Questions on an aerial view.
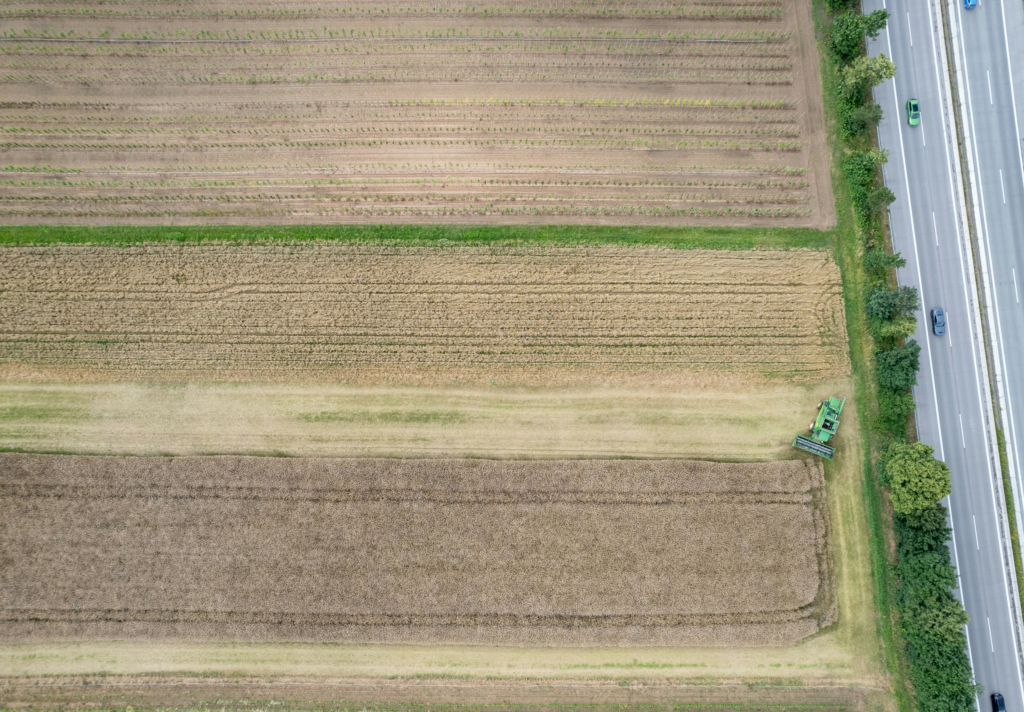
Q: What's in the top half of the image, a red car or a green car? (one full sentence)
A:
The one visible in the top half of the image is a green car.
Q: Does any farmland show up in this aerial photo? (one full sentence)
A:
Yes, the picture does contain farmland.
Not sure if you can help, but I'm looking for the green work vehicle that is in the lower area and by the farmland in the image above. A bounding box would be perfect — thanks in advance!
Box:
[790,394,846,462]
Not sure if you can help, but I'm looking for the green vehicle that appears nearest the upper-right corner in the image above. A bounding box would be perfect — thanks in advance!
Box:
[905,99,922,126]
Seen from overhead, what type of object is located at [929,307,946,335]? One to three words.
car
